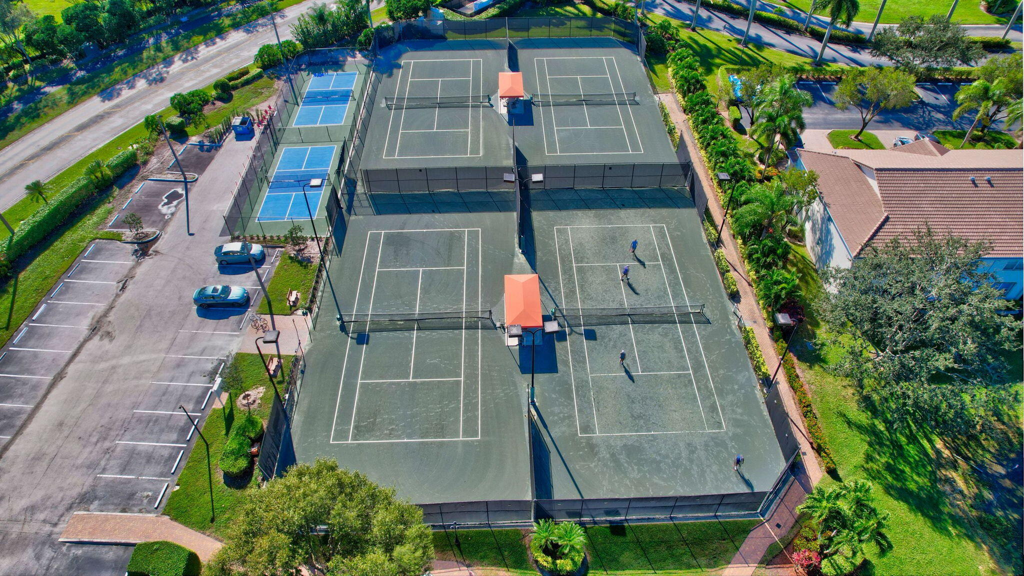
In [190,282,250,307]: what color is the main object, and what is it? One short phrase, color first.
blue car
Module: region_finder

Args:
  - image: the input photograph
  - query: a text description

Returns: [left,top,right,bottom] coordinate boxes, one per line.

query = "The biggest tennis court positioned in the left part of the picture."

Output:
[274,191,534,526]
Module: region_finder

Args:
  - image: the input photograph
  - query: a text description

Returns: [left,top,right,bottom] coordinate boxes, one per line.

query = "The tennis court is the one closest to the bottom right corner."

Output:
[515,187,787,521]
